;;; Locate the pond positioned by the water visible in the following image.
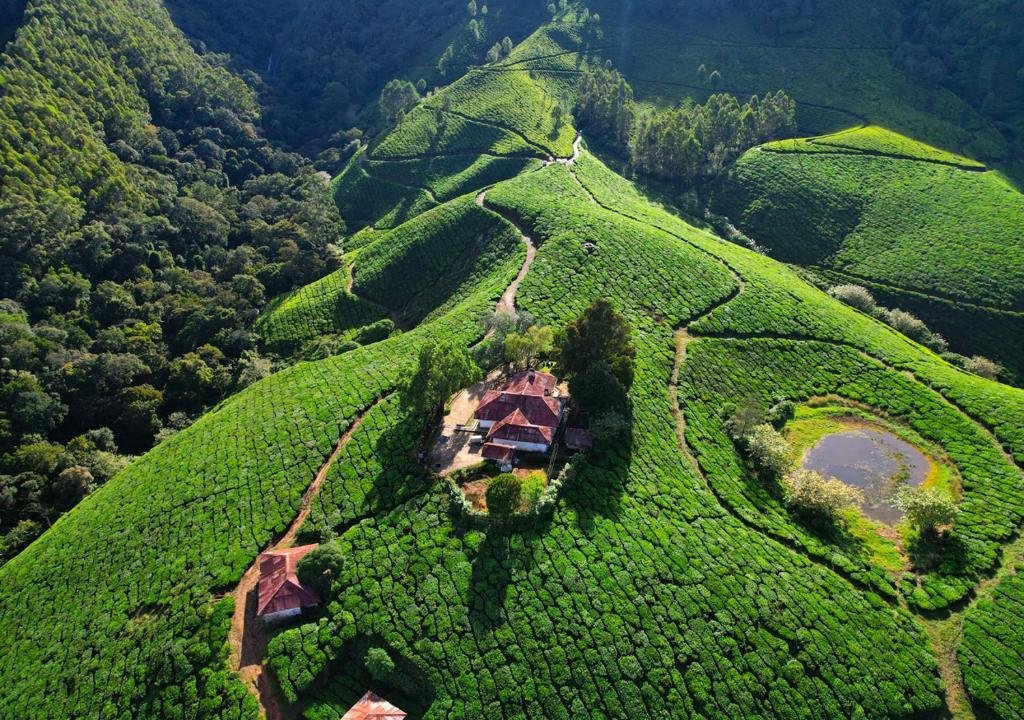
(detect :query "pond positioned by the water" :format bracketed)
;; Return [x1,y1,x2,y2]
[808,427,928,516]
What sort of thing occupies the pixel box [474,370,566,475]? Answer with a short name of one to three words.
house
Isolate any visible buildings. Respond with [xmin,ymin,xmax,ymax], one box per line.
[560,426,590,456]
[259,544,321,623]
[474,370,566,475]
[349,691,409,720]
